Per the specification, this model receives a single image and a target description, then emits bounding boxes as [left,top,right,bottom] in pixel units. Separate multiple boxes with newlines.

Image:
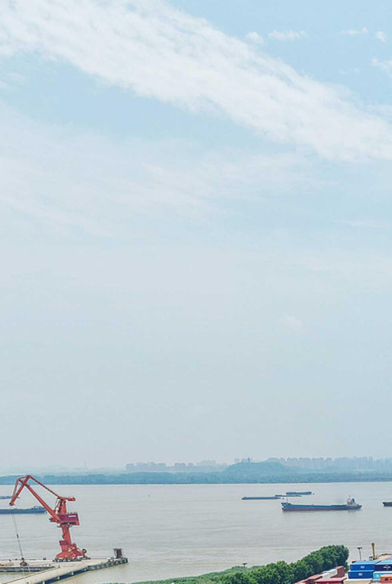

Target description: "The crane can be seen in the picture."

[6,469,84,562]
